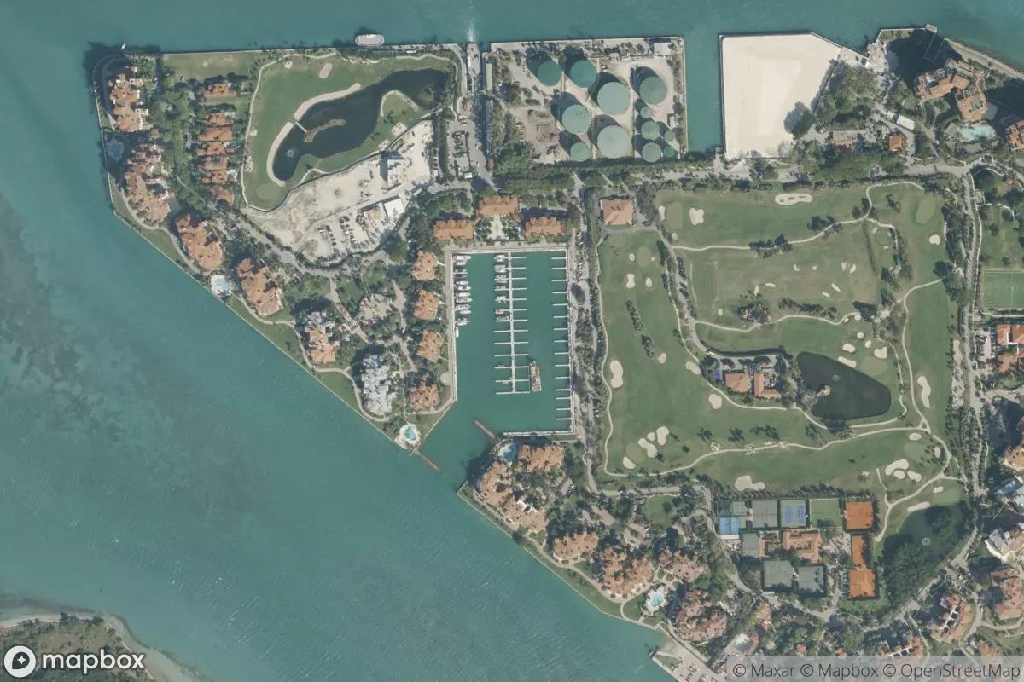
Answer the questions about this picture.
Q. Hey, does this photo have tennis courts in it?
Yes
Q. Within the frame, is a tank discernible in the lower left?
No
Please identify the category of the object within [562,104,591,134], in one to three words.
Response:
storage tank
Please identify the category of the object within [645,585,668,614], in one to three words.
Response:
swimming pool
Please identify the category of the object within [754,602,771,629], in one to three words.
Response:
house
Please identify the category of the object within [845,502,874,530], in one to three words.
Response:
tennis court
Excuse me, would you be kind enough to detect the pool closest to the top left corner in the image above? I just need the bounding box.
[107,138,123,161]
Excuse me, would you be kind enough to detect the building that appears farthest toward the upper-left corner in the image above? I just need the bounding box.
[107,66,150,134]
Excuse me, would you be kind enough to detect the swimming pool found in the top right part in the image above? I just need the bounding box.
[957,124,997,140]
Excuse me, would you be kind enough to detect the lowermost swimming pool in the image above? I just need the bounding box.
[732,633,754,653]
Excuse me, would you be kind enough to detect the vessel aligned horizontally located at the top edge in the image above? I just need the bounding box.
[355,34,384,46]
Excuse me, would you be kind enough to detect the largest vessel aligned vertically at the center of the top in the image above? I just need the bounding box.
[467,44,480,78]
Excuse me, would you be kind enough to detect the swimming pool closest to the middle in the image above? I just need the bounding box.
[498,440,518,465]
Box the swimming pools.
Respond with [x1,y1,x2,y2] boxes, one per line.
[396,423,420,451]
[645,585,668,614]
[210,272,232,295]
[732,633,754,653]
[957,124,997,140]
[107,138,123,161]
[498,440,518,465]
